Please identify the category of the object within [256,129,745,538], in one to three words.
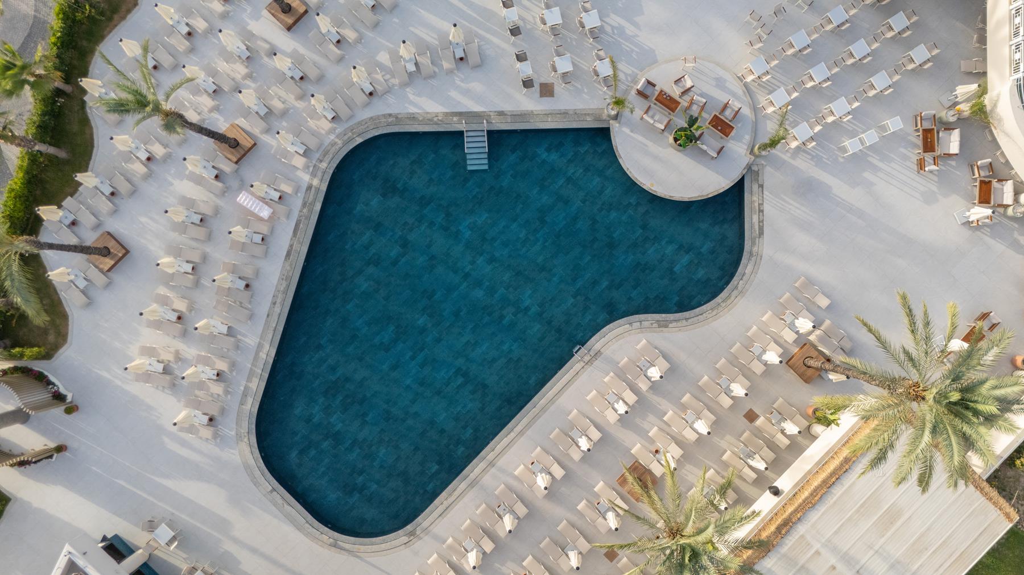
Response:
swimming pool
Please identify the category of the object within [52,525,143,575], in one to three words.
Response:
shed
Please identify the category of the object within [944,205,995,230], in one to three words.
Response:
umbrella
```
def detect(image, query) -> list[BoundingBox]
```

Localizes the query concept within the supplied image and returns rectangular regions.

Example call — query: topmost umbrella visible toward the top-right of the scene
[931,83,981,111]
